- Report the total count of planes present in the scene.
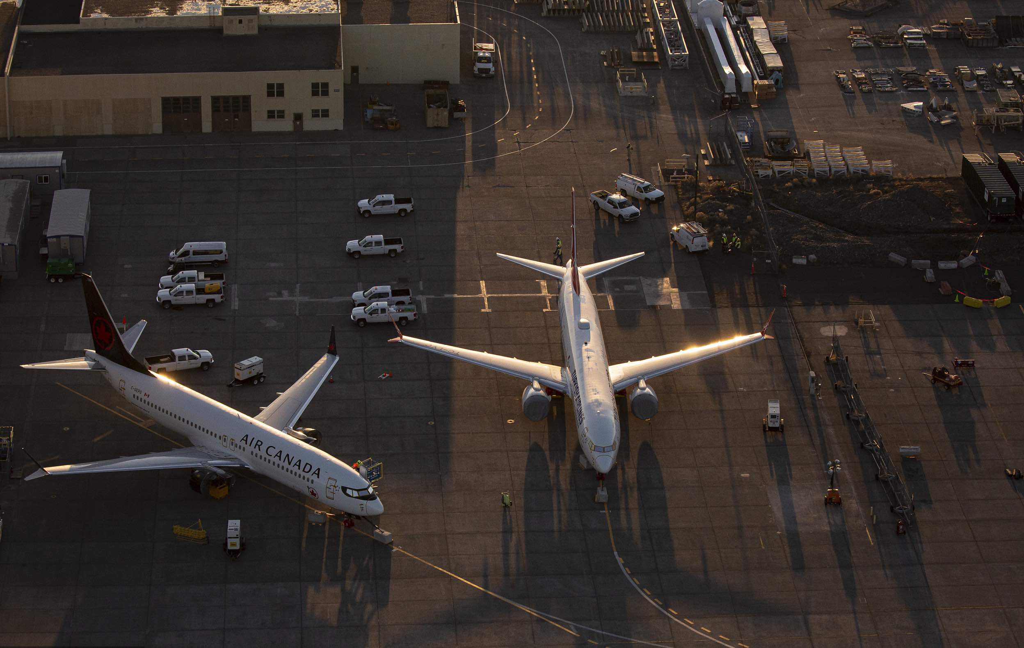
2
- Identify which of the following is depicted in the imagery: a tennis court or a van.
van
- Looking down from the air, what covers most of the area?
paved ground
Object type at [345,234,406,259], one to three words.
truck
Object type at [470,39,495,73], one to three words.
truck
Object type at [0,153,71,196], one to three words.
building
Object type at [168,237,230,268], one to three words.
van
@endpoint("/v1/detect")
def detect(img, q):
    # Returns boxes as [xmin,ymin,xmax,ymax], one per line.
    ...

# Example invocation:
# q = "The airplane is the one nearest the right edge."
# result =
[389,190,776,473]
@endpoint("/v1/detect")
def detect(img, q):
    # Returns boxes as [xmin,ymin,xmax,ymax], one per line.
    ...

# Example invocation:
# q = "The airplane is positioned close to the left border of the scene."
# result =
[20,273,383,528]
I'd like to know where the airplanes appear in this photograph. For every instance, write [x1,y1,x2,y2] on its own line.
[389,190,776,473]
[20,273,383,528]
